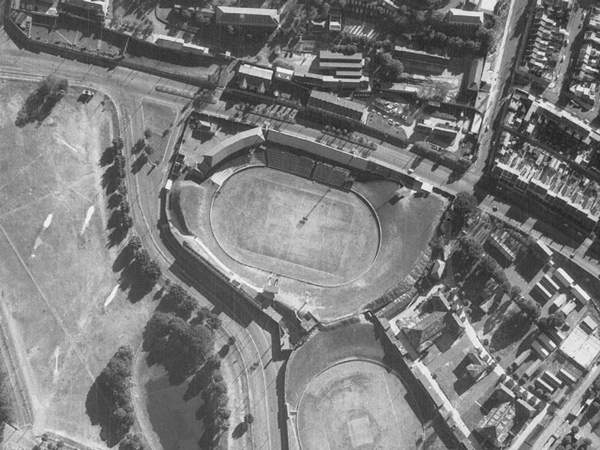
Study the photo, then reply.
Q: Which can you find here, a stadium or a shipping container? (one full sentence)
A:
The one in the frame is a stadium.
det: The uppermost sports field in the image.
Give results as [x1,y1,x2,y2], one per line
[210,166,380,287]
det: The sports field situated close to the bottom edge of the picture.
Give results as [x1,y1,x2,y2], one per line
[286,318,458,450]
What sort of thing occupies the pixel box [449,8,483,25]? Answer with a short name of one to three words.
house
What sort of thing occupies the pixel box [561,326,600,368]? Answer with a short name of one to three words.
building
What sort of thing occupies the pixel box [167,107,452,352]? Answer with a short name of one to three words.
stadium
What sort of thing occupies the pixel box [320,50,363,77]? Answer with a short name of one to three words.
building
